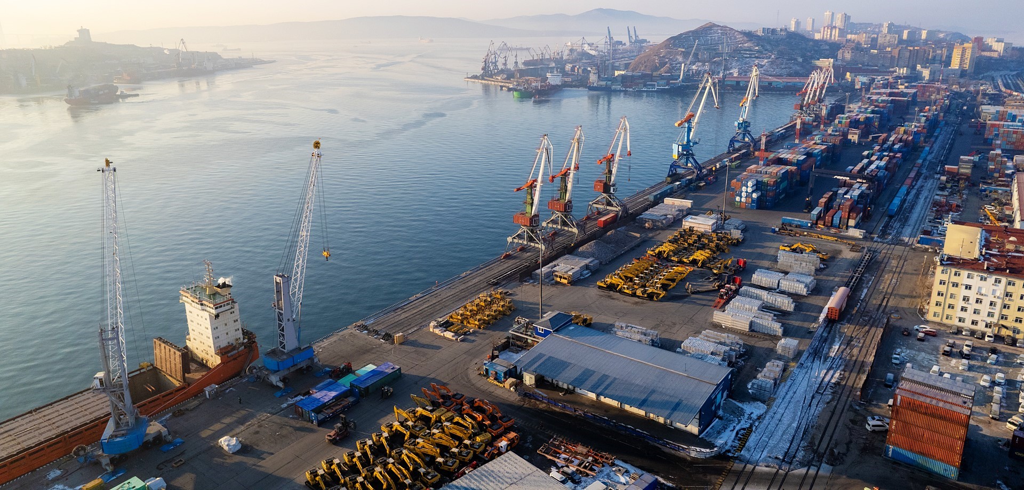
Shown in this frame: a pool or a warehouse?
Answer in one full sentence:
It is a warehouse that can be seen here.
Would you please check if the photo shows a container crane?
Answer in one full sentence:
Yes, there's a container crane down there.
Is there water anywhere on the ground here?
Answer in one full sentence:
Yes, water can be seen from above here.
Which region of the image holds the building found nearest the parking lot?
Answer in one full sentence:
The building found nearest the parking lot appears toward the right of the photo.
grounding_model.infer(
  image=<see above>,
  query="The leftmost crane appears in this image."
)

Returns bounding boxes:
[65,162,175,474]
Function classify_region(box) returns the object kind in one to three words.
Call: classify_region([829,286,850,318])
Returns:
rail car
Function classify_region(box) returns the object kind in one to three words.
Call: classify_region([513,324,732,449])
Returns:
warehouse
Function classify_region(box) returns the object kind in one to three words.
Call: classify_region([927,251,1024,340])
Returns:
building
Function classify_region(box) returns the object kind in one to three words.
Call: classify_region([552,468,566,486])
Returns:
car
